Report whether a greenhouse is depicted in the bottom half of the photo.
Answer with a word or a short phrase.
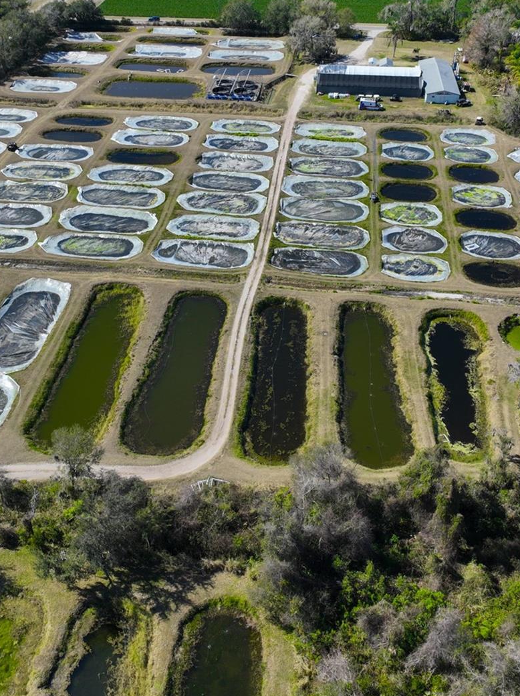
No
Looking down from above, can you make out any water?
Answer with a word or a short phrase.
Yes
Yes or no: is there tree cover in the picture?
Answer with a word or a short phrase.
Yes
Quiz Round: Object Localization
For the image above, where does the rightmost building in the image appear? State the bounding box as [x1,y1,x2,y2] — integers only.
[407,49,465,103]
